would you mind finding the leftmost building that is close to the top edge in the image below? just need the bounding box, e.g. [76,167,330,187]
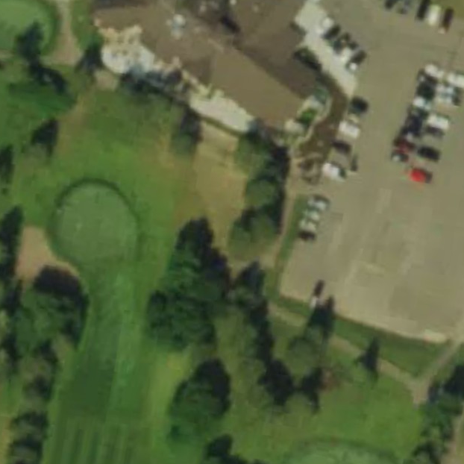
[94,0,322,126]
